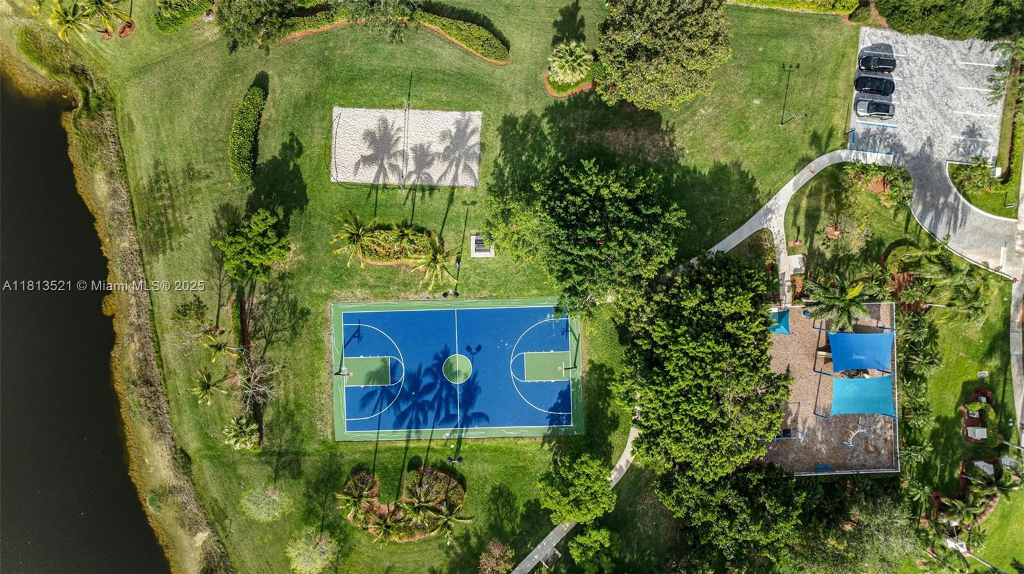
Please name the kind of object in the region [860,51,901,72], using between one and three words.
car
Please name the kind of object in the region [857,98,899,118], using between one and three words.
car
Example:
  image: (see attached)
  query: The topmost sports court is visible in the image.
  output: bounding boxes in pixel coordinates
[325,107,482,194]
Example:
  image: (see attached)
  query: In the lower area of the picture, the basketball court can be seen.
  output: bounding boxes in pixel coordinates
[330,298,584,442]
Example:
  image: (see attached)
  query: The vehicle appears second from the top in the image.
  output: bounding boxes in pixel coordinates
[856,74,897,95]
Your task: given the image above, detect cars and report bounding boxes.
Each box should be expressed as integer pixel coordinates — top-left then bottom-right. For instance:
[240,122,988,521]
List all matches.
[856,74,897,95]
[857,98,899,118]
[860,51,901,72]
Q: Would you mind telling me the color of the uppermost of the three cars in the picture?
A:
black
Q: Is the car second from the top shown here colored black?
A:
Yes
